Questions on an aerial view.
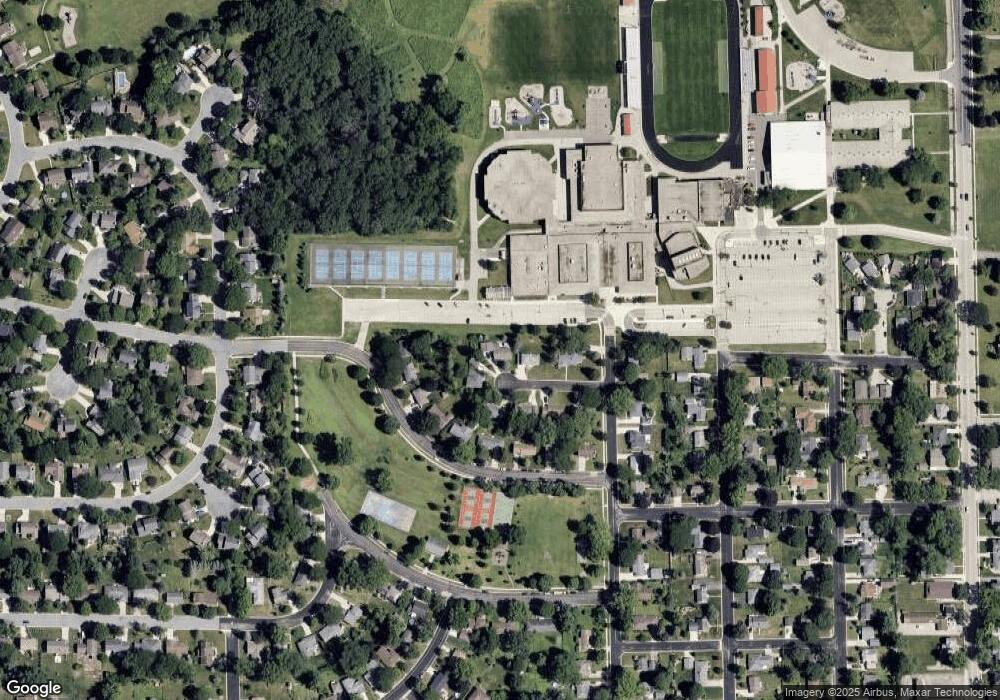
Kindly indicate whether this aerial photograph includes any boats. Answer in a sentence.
No, this view has no boat in it.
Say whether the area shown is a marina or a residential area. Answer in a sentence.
The picture captures a residential area.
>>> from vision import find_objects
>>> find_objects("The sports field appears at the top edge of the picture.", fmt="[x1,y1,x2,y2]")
[653,0,729,160]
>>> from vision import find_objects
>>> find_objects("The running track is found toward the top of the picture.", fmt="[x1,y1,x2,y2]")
[641,0,742,172]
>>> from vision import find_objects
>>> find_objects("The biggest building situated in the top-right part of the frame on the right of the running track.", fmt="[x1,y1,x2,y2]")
[764,104,831,189]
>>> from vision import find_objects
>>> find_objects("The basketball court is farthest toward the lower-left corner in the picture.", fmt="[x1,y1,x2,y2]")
[360,491,416,532]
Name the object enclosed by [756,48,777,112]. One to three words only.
building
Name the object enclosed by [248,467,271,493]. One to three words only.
house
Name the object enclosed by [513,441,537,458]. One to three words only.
house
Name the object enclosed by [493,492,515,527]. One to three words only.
tennis court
